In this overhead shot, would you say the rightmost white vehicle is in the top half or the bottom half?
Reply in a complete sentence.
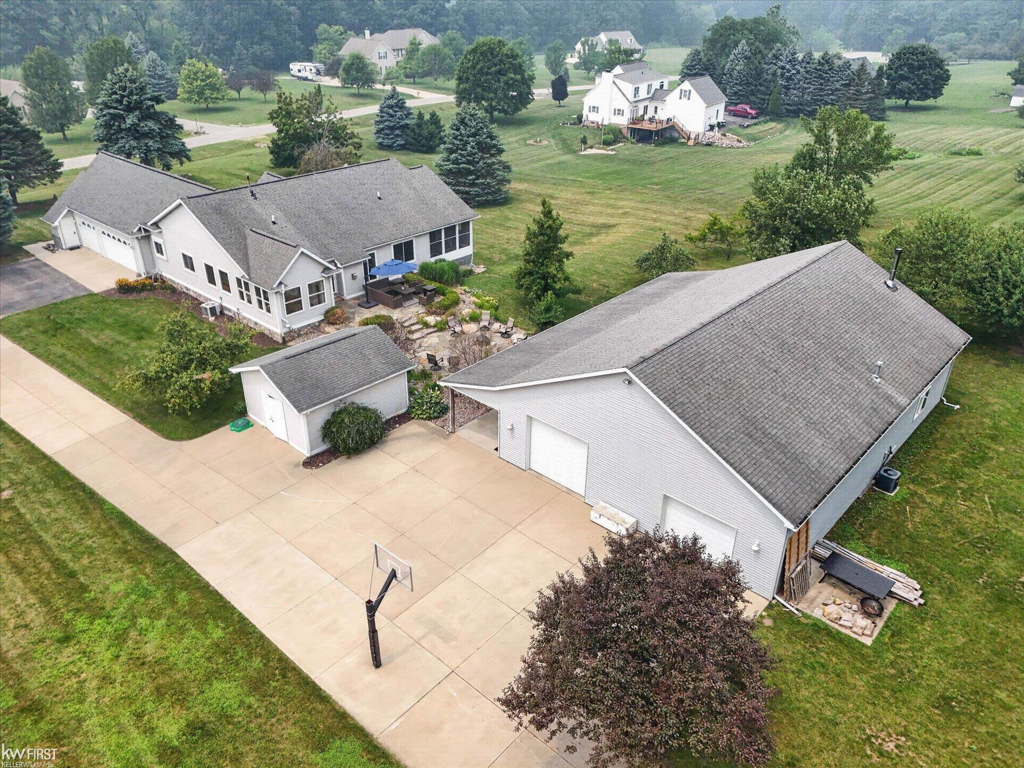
The rightmost white vehicle is in the top half of the image.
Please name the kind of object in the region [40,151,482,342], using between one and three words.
house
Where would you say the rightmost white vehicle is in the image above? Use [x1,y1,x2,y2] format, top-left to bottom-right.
[284,60,327,82]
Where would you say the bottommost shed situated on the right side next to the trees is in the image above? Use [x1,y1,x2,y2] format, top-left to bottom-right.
[443,236,968,617]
